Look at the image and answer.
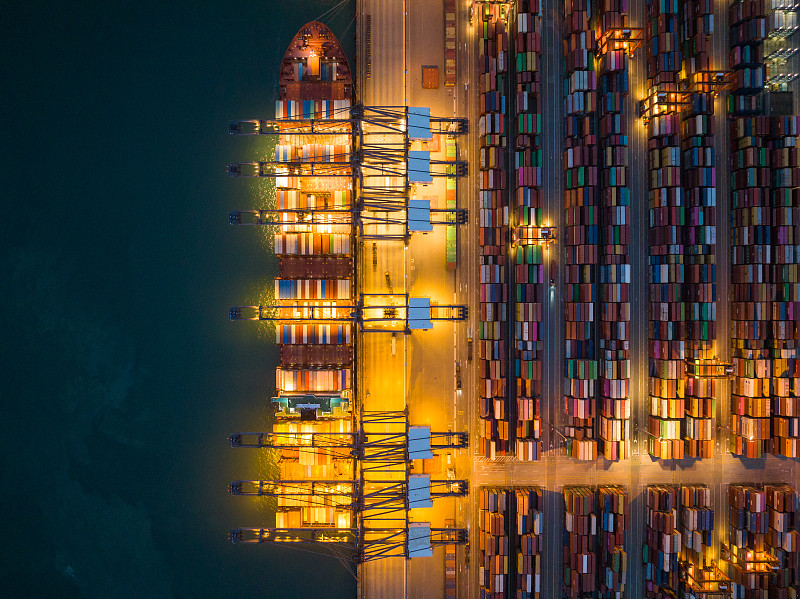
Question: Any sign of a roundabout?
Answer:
No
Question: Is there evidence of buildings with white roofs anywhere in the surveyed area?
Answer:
No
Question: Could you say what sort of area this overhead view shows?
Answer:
port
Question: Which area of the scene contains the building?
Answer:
top right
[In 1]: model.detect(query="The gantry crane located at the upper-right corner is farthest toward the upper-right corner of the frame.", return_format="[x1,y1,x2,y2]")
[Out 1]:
[679,69,733,98]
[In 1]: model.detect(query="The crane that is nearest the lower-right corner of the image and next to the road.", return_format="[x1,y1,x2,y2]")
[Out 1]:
[722,544,780,573]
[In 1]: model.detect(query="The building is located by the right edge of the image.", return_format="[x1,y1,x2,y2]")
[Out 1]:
[762,91,794,119]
